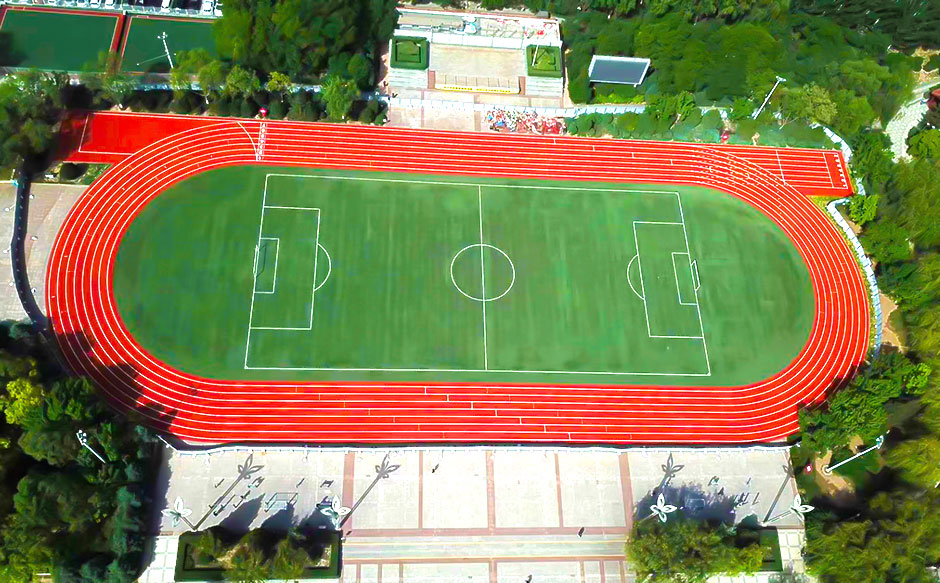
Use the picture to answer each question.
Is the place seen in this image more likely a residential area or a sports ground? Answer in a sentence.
This image shows a sports ground.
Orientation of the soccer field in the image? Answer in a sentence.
I'd say the soccer field is aligned from left to right in the picture.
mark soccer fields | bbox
[114,165,815,387]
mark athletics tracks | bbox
[37,110,869,445]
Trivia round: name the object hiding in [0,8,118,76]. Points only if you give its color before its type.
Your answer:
green sports court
